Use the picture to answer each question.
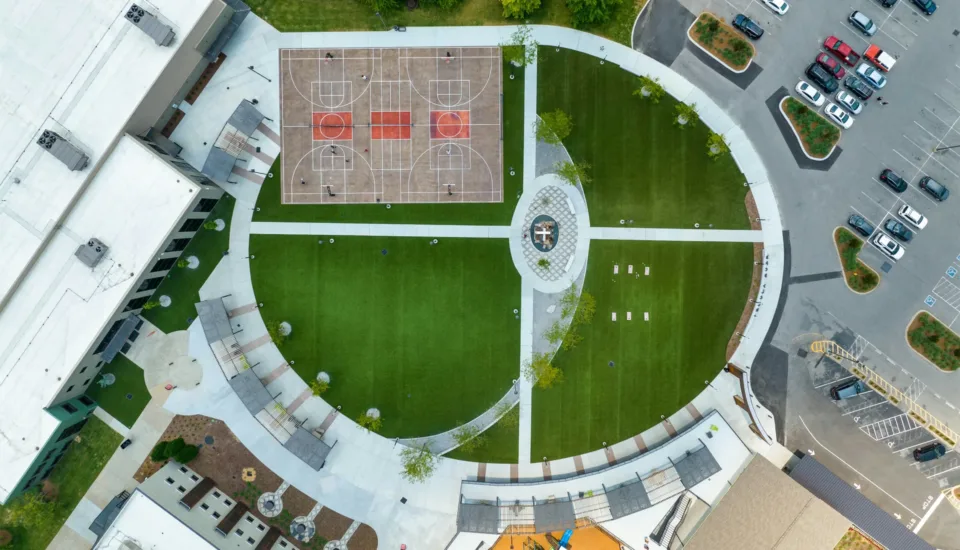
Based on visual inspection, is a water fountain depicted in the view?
Yes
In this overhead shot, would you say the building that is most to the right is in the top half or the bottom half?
bottom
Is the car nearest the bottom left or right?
right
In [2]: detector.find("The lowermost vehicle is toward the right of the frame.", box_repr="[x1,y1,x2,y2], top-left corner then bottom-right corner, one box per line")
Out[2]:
[911,441,945,463]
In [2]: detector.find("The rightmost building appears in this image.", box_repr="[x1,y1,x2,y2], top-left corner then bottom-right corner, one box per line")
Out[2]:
[674,450,850,550]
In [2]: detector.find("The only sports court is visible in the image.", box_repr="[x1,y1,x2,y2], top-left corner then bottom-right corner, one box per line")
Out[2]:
[279,46,503,204]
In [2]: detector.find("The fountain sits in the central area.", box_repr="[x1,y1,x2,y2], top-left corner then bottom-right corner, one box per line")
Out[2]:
[531,215,560,253]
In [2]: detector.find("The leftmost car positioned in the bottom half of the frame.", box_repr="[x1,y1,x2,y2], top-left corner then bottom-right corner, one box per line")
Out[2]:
[829,379,864,400]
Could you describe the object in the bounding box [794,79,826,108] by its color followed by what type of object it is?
white car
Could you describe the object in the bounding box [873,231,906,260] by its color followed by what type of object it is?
white car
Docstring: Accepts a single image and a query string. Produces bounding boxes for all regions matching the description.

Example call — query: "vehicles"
[855,62,887,90]
[804,63,838,93]
[873,231,906,260]
[832,88,863,116]
[822,101,855,130]
[846,8,877,37]
[878,167,908,194]
[841,73,876,102]
[845,211,878,240]
[896,202,928,230]
[794,79,826,108]
[731,12,765,42]
[829,379,864,400]
[917,174,950,203]
[821,35,862,67]
[815,51,846,79]
[862,43,900,72]
[905,0,937,17]
[882,216,914,244]
[911,441,945,463]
